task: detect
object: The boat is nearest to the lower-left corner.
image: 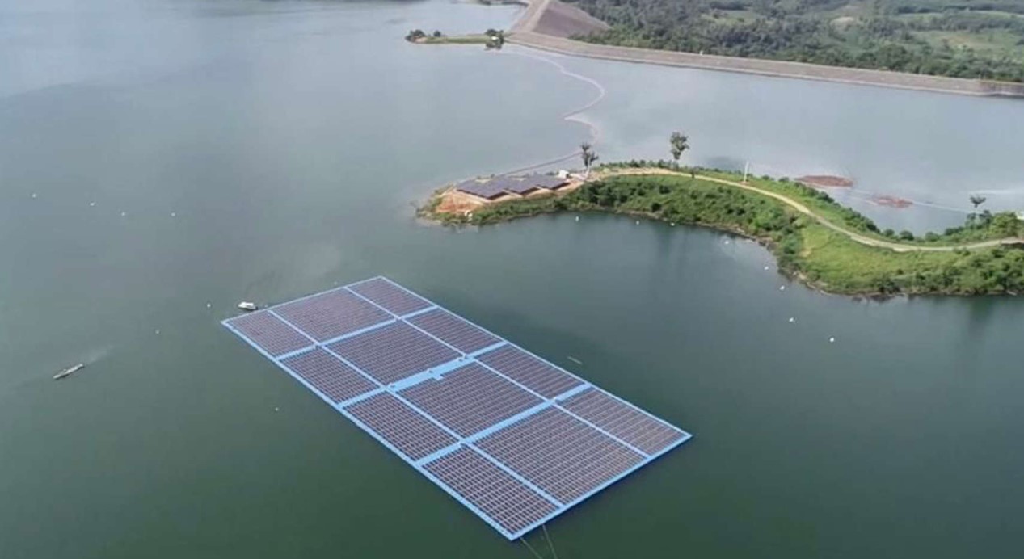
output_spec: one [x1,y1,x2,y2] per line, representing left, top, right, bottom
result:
[54,363,85,377]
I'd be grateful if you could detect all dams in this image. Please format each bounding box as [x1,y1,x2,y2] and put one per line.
[510,0,1024,95]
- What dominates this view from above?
water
